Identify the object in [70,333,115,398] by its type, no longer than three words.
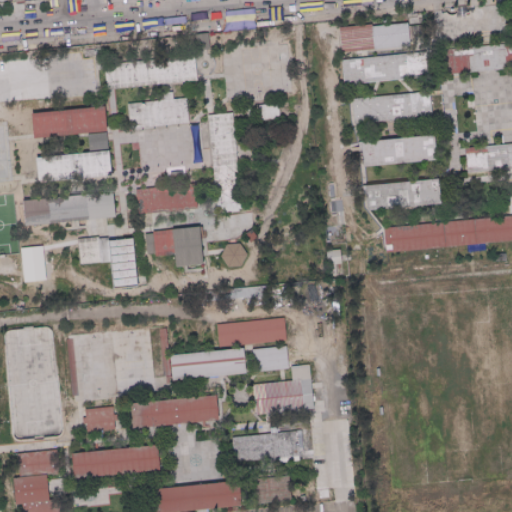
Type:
sports court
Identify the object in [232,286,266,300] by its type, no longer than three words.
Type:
shed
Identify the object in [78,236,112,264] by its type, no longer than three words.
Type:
building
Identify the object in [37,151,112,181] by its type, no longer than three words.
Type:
building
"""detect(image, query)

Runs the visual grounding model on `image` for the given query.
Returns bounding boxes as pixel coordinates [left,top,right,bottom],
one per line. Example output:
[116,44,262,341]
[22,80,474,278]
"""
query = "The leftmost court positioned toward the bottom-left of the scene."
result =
[2,325,64,441]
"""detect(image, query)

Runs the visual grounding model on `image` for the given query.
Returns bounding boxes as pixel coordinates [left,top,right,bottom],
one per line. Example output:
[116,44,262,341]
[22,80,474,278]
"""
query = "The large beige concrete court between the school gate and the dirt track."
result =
[224,44,297,102]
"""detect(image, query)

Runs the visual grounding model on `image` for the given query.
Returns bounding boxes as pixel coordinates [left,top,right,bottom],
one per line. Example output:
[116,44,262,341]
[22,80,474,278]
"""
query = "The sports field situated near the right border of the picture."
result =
[384,288,512,486]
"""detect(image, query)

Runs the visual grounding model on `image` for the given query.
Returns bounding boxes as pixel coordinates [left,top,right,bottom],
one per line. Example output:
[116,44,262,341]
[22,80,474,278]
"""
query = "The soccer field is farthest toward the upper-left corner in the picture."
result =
[0,194,22,253]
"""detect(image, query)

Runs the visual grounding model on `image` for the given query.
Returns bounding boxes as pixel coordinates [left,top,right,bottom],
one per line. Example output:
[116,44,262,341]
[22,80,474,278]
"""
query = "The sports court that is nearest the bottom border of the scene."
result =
[174,425,224,484]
